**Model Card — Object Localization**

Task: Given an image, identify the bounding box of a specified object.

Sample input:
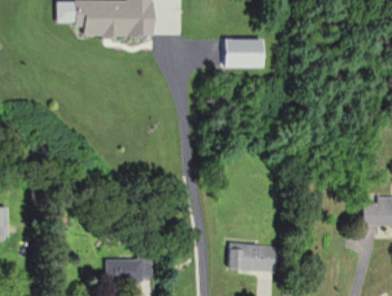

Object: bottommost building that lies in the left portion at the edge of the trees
[105,258,152,280]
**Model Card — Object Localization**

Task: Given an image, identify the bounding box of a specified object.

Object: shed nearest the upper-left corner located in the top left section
[56,0,76,23]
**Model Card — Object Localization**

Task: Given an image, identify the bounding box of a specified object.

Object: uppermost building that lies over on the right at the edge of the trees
[226,38,266,68]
